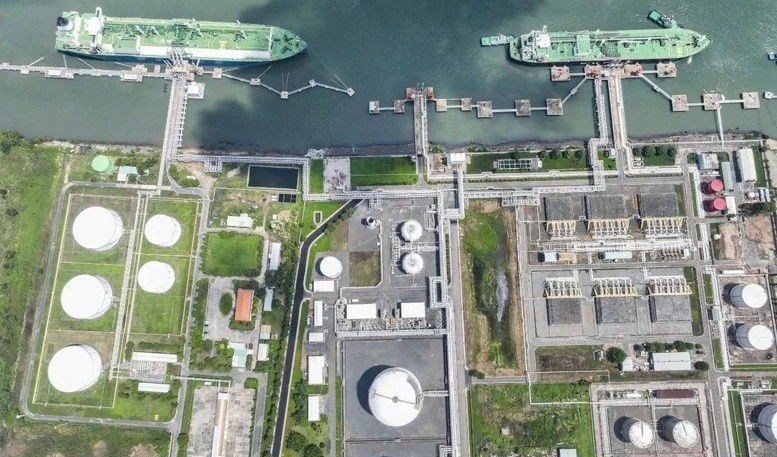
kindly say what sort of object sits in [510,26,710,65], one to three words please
ship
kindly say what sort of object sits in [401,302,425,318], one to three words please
building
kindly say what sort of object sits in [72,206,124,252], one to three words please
storage tank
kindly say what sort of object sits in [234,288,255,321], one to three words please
building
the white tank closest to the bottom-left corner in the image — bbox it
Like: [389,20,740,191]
[46,343,103,393]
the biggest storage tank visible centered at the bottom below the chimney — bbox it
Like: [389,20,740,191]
[368,365,423,426]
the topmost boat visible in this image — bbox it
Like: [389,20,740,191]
[644,8,676,28]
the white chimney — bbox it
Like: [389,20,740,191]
[366,218,383,245]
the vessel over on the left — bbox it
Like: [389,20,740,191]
[55,9,307,68]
